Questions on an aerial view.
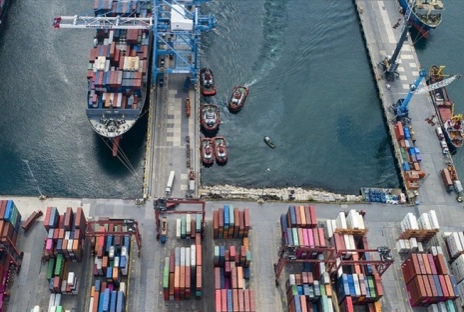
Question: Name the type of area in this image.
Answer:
port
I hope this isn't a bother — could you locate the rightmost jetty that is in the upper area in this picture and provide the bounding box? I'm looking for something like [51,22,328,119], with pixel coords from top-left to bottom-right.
[353,0,464,208]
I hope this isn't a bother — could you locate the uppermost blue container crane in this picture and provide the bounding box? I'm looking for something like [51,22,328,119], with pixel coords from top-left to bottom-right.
[153,0,196,36]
